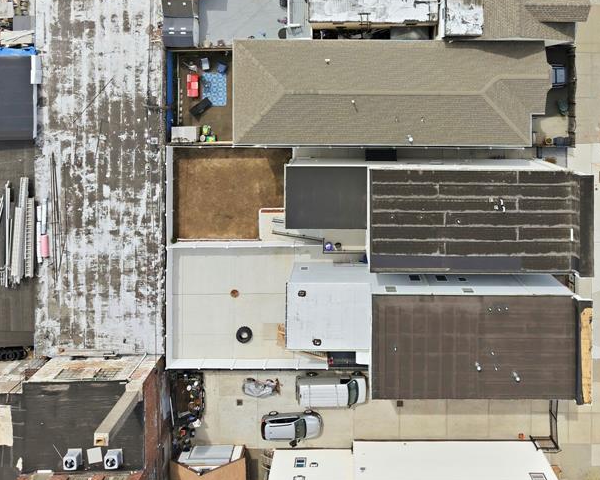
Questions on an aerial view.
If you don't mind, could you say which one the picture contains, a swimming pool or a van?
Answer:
van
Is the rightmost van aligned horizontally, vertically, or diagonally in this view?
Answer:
horizontally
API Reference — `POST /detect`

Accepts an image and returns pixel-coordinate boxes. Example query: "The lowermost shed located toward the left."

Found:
[170,431,249,480]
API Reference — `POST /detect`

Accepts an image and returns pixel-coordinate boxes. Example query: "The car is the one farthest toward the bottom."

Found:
[261,410,323,443]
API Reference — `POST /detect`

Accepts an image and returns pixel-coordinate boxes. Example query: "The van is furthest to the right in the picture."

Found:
[295,373,366,409]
